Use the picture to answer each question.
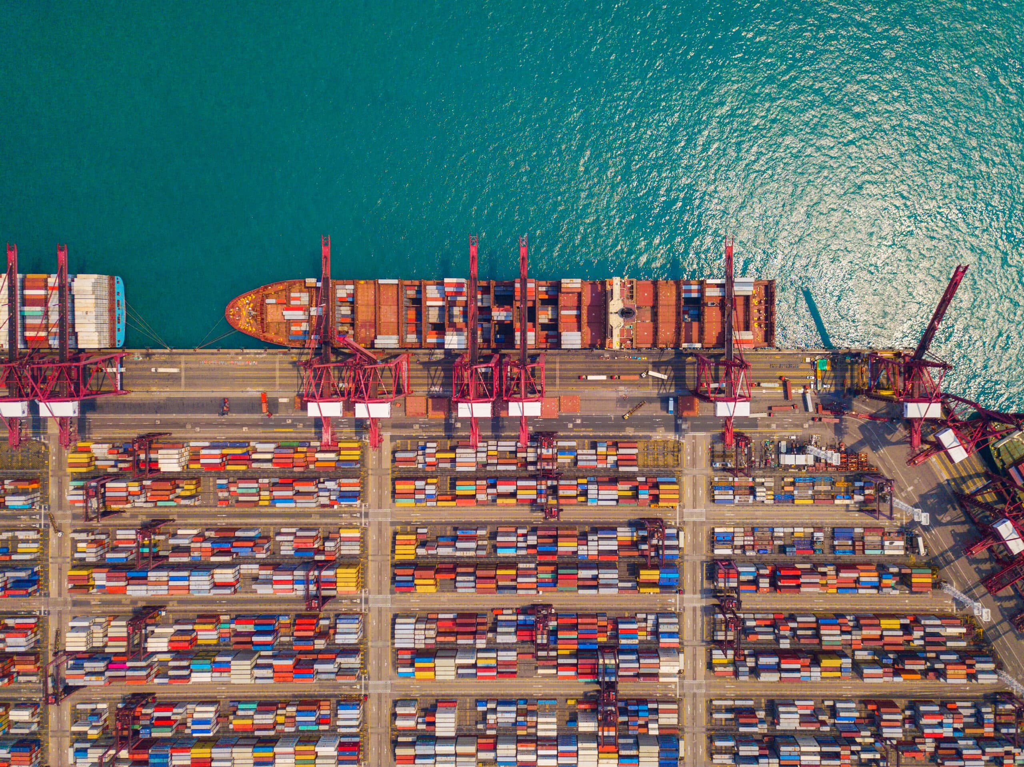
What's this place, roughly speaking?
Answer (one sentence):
This looks like a port.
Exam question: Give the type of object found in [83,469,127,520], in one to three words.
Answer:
container crane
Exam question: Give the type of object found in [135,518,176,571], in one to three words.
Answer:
container crane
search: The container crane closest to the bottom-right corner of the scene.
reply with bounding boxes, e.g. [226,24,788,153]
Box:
[982,690,1024,753]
